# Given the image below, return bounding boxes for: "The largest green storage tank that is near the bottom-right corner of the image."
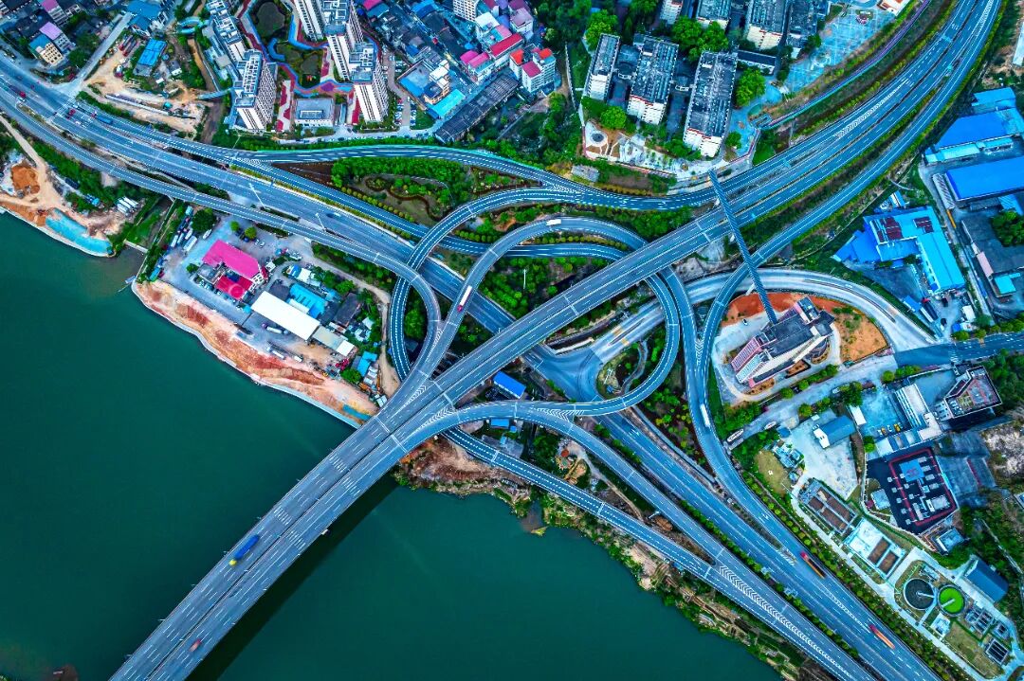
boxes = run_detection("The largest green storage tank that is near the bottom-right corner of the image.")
[939,586,968,614]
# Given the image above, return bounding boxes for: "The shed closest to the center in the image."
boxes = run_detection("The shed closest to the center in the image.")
[493,371,527,399]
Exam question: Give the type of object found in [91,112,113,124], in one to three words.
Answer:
vehicle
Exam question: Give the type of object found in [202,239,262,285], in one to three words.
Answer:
building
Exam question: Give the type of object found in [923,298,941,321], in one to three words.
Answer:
vehicle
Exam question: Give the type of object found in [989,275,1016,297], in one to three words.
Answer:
shed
